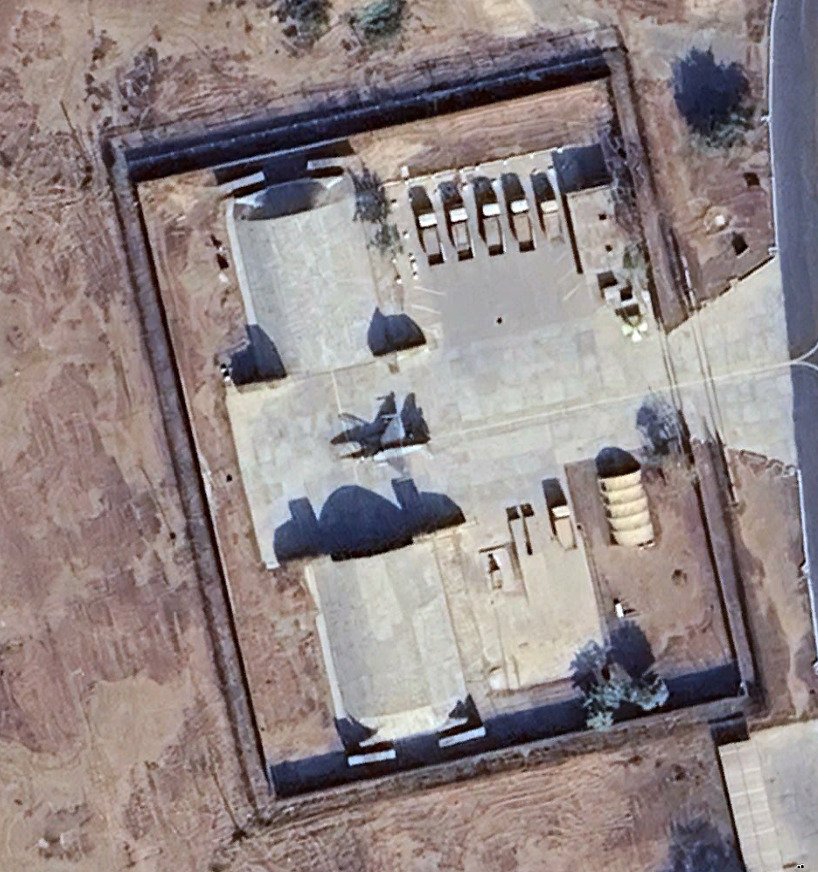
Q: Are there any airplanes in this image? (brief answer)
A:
Yes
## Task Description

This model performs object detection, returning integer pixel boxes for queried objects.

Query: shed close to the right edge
[714,733,786,872]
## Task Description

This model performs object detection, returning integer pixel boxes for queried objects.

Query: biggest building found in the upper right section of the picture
[563,177,626,270]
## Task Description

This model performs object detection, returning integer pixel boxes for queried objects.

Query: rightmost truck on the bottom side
[551,501,580,550]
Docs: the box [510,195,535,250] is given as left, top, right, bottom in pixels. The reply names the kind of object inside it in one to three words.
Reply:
truck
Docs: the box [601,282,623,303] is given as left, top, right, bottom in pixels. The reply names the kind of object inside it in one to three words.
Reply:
shed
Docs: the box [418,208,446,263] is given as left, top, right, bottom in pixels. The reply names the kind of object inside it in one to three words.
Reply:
truck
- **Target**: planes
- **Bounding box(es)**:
[340,415,431,478]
